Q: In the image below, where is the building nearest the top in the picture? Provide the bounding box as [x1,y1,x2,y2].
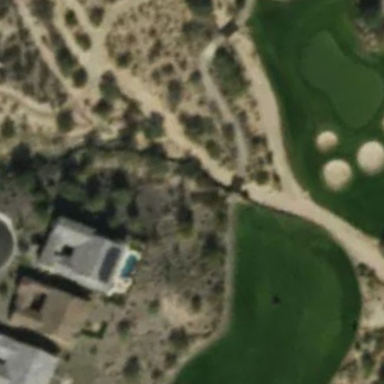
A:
[37,215,126,293]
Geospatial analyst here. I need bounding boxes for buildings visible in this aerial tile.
[0,335,60,384]
[37,215,126,293]
[6,276,81,339]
